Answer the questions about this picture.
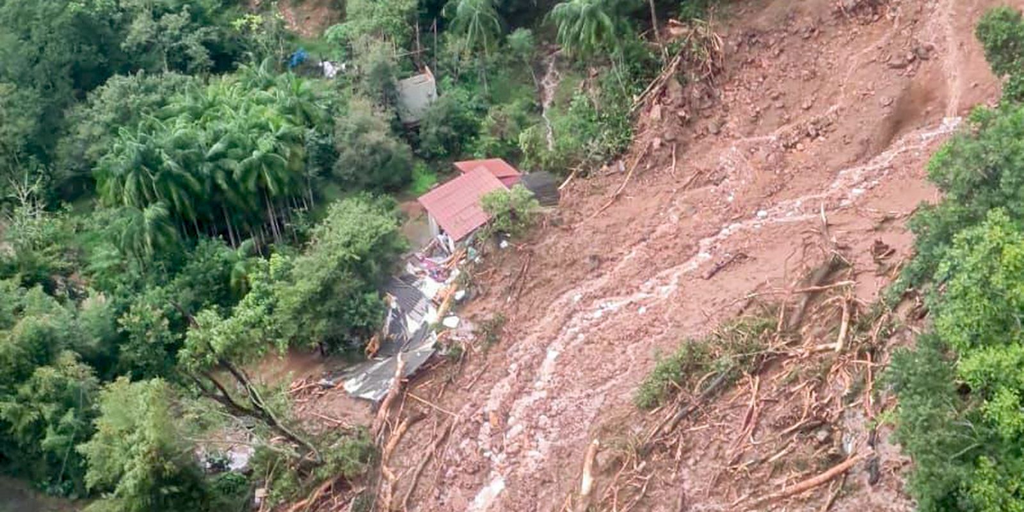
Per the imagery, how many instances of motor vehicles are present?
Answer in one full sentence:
The photo contains no motor vehicles.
